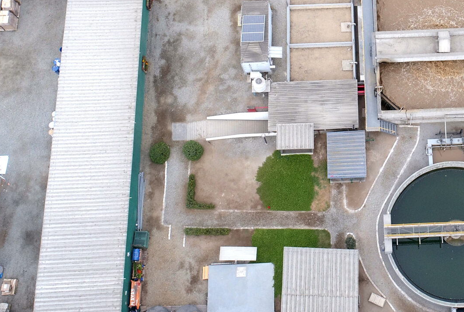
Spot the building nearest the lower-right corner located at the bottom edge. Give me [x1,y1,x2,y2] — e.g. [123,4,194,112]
[281,247,359,312]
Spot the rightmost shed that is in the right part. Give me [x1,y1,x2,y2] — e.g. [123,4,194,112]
[327,130,366,183]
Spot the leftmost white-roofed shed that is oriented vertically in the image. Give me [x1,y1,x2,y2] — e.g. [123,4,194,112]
[34,0,148,312]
